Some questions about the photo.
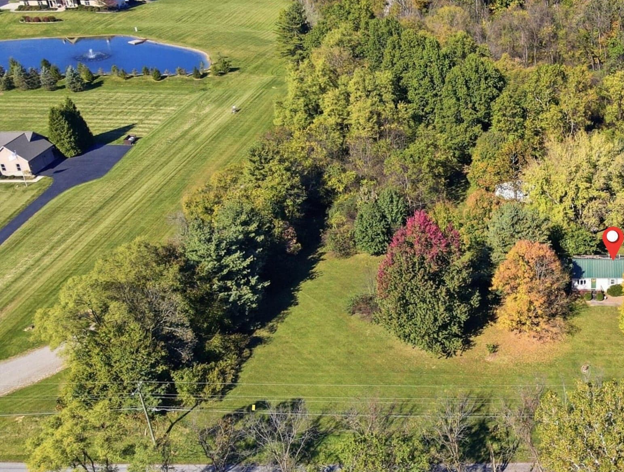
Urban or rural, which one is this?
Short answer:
rural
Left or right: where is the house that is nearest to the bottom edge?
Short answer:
right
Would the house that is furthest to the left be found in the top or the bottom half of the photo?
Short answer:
top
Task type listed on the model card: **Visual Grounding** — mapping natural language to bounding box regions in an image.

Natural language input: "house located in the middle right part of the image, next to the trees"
[570,255,624,293]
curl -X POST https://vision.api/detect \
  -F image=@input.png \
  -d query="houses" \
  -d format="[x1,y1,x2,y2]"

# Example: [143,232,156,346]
[0,121,65,176]
[570,255,624,293]
[16,0,119,9]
